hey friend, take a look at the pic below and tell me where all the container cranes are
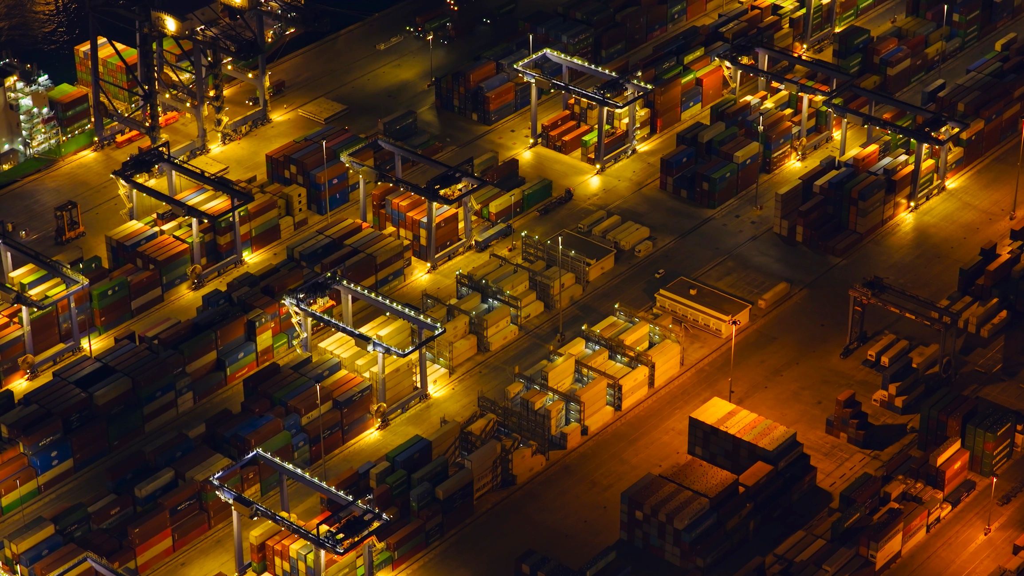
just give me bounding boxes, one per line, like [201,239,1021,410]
[273,268,450,426]
[100,147,256,287]
[51,0,232,177]
[196,445,393,576]
[813,80,976,210]
[836,254,967,396]
[0,235,94,376]
[147,0,294,146]
[331,136,491,272]
[506,47,658,172]
[707,34,862,159]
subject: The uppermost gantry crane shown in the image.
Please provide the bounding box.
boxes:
[804,0,843,50]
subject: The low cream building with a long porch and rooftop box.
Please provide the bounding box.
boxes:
[648,277,750,341]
